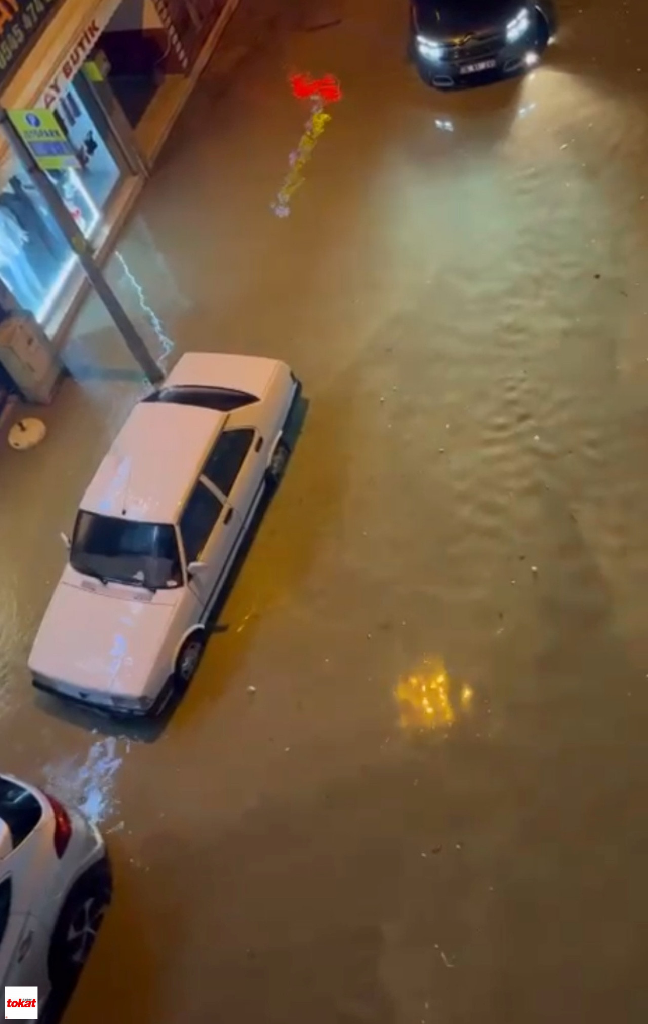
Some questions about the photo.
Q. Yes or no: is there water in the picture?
Yes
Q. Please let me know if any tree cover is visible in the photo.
No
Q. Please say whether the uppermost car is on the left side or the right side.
right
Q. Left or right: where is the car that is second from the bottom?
left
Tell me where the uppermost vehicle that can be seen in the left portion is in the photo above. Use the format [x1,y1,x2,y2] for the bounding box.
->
[24,357,308,723]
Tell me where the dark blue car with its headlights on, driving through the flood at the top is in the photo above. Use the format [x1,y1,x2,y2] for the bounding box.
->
[390,0,538,87]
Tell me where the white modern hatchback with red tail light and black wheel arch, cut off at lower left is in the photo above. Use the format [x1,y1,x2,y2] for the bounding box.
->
[0,767,112,1024]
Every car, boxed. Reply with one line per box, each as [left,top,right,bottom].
[0,767,112,1024]
[24,357,308,723]
[390,0,538,87]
